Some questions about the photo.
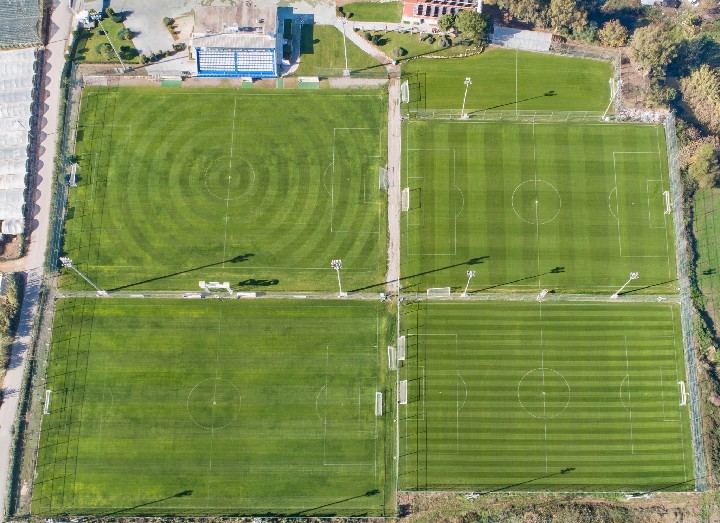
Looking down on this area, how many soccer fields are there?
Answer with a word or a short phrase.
5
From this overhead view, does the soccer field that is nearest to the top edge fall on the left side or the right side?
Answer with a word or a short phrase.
right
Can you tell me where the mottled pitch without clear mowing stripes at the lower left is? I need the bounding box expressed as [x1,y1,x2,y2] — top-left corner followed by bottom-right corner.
[31,299,396,517]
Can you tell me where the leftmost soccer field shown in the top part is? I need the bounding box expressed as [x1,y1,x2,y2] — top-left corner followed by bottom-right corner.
[58,87,390,291]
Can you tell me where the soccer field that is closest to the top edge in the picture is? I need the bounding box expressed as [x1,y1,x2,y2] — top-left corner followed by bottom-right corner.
[401,46,614,113]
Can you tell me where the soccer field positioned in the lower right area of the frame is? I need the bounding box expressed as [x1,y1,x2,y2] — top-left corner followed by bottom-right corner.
[398,302,698,490]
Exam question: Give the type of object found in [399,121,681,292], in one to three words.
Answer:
soccer field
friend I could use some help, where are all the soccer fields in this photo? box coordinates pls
[58,87,390,291]
[401,46,614,113]
[31,299,396,517]
[399,121,681,292]
[398,302,698,490]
